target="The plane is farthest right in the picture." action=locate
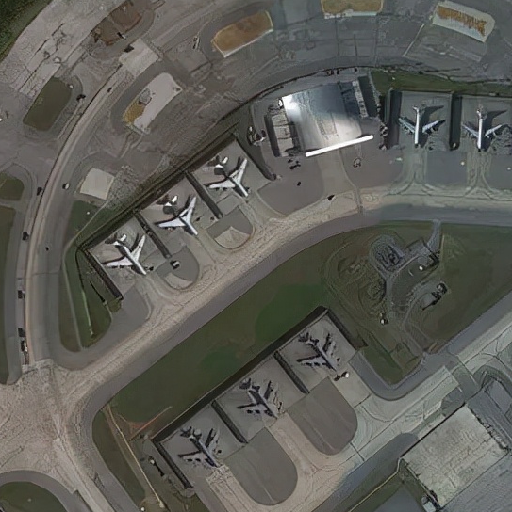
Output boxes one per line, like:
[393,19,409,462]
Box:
[460,110,500,150]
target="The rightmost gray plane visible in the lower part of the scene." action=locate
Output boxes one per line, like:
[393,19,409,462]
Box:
[298,332,337,371]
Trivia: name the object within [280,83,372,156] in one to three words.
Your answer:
hangar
